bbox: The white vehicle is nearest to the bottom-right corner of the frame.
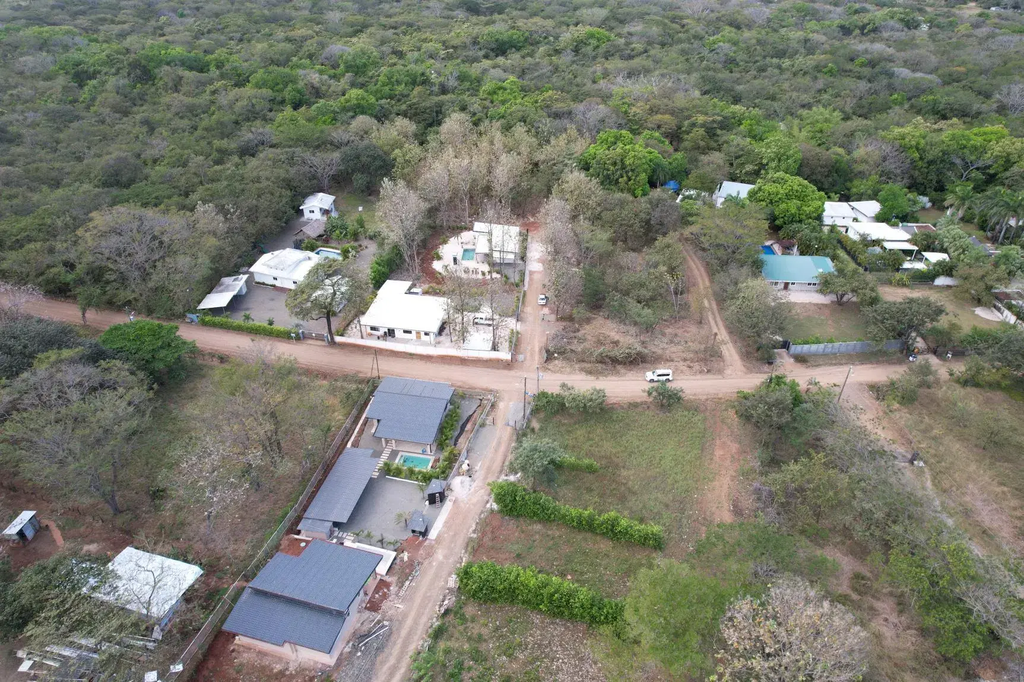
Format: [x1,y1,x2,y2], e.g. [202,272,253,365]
[644,369,674,383]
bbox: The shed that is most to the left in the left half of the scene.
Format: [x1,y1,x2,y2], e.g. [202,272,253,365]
[2,511,41,545]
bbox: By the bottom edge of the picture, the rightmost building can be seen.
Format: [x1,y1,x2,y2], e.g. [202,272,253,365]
[221,539,384,666]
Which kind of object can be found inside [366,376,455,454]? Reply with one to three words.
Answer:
building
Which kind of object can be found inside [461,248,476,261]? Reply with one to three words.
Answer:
swimming pool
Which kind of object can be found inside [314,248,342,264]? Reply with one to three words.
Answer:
swimming pool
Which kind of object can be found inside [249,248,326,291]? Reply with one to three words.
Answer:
house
